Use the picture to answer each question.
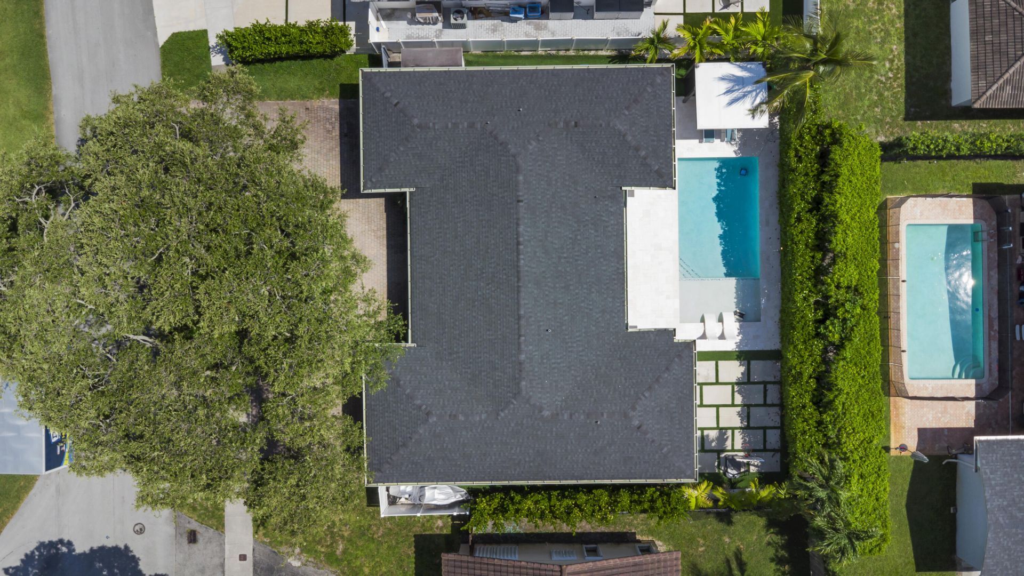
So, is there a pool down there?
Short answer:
Yes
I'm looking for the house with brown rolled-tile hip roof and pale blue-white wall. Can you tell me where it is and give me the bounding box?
[951,0,1024,110]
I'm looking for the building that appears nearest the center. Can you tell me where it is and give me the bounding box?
[360,62,697,489]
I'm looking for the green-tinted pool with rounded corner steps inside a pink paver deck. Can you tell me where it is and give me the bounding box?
[900,218,991,386]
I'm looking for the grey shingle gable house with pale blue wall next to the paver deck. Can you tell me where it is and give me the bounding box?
[942,434,1024,576]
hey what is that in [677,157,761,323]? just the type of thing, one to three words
swimming pool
